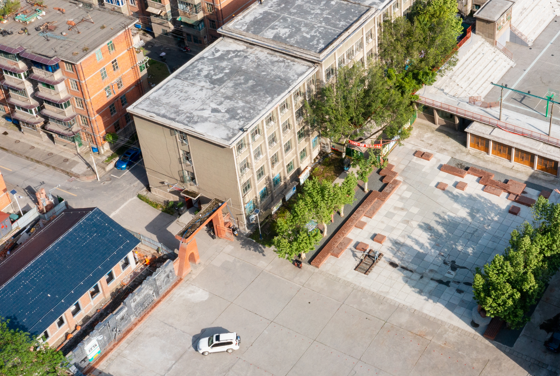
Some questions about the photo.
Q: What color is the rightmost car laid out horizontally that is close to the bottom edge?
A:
white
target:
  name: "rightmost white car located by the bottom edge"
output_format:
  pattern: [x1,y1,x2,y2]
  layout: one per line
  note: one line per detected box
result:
[197,330,242,357]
